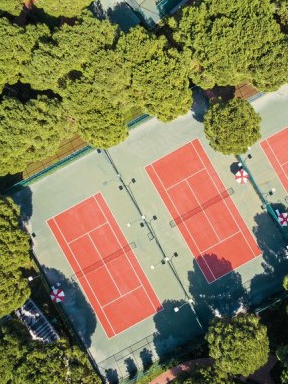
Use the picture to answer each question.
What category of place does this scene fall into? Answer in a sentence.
The picture captures a sports ground.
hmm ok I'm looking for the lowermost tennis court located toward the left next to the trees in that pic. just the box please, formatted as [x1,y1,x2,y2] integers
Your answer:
[6,146,204,384]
